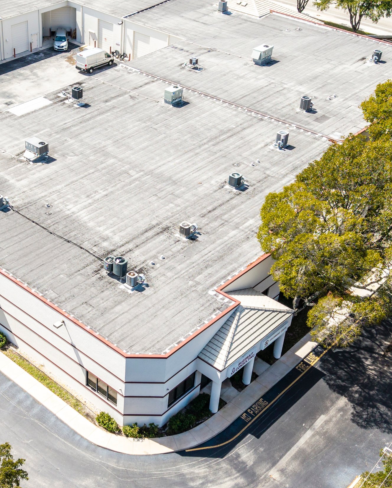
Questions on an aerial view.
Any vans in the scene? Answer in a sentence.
Yes, there's a van down there.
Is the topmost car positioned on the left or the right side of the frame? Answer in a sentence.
You can find the topmost car on the left side of the picture.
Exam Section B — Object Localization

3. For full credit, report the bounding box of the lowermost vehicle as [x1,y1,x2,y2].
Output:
[72,44,116,73]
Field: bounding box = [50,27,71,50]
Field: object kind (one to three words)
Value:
car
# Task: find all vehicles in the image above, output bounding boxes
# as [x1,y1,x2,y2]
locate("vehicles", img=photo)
[72,44,116,73]
[50,27,71,50]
